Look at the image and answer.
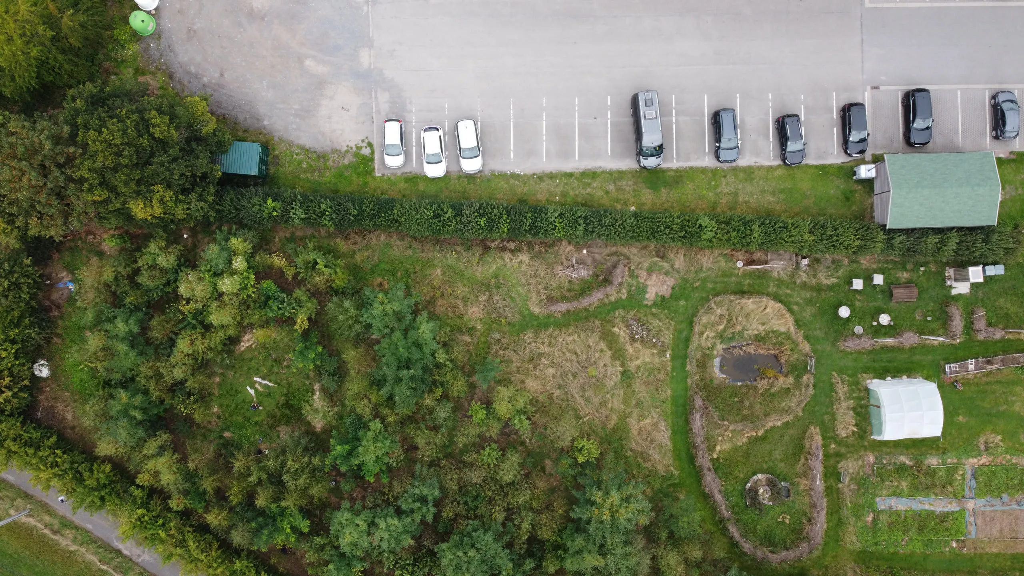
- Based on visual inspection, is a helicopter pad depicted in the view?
No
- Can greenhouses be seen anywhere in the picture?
Yes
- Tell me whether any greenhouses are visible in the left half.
No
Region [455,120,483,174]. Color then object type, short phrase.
white car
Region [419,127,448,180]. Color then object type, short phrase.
white car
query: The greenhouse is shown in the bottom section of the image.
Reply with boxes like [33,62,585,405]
[867,371,946,441]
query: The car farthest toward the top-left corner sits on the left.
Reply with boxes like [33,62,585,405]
[380,119,407,169]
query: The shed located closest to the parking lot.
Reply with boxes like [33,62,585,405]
[867,149,1004,231]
